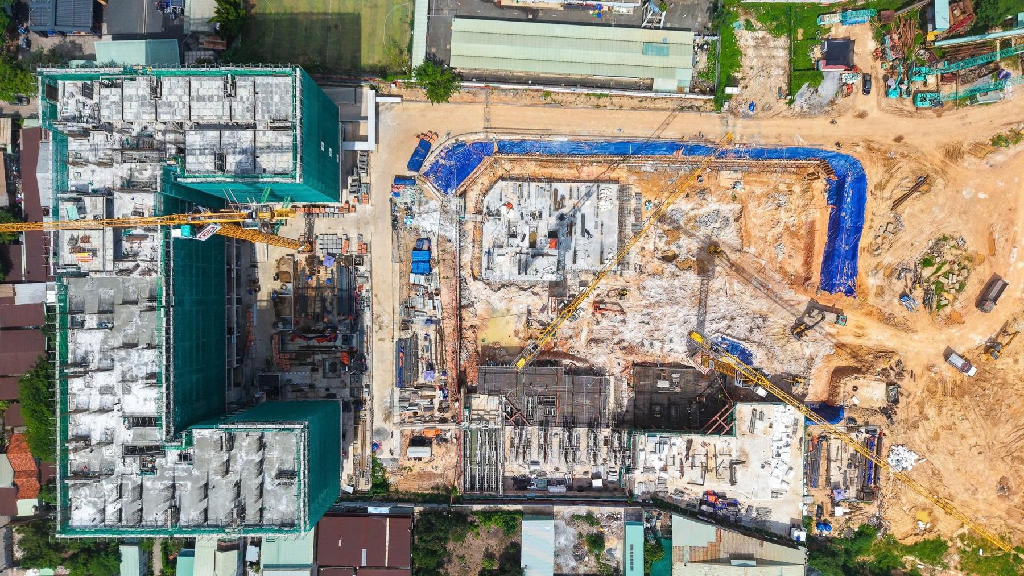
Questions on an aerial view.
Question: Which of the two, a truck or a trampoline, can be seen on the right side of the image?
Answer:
truck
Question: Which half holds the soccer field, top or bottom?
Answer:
top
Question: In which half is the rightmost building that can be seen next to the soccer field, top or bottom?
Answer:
top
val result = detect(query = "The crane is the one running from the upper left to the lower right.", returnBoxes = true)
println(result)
[697,341,1019,557]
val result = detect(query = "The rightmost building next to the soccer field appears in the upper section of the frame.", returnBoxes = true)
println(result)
[451,19,693,85]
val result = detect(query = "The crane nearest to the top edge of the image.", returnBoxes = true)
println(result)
[904,46,1024,81]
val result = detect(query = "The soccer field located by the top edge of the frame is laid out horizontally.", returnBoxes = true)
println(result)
[246,0,411,73]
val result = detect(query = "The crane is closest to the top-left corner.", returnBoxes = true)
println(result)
[0,186,320,255]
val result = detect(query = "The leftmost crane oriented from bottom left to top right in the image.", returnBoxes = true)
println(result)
[513,131,736,371]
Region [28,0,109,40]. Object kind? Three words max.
shed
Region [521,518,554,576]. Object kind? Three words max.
shed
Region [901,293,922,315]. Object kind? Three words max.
work vehicle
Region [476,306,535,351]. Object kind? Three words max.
pond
